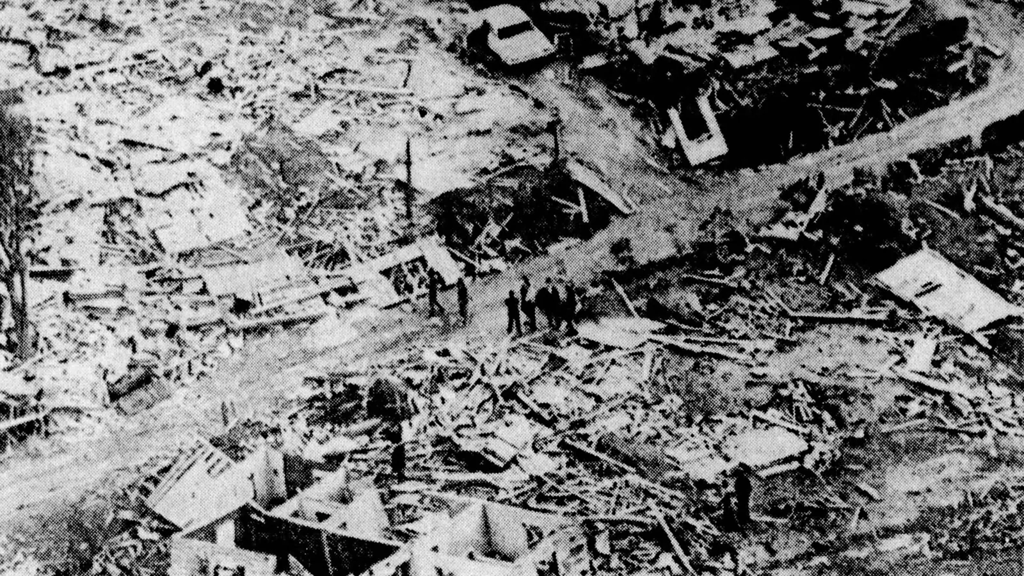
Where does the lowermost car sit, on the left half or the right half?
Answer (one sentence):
It is on the right.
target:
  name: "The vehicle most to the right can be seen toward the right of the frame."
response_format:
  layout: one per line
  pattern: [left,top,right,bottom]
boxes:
[668,90,736,164]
